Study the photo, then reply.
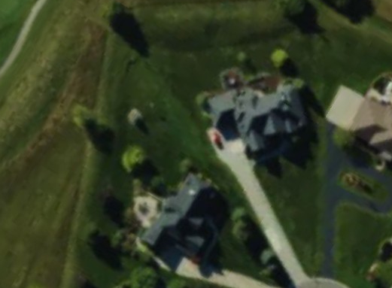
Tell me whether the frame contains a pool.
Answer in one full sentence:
No, there's no pool here.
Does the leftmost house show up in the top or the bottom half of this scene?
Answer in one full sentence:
The leftmost house sits in the bottom half of the picture.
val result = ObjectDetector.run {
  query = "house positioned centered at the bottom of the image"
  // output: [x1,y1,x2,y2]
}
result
[138,167,226,263]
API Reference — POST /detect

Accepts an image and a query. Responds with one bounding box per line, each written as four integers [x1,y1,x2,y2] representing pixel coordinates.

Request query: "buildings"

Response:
[348,94,392,163]
[138,167,226,263]
[204,80,311,159]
